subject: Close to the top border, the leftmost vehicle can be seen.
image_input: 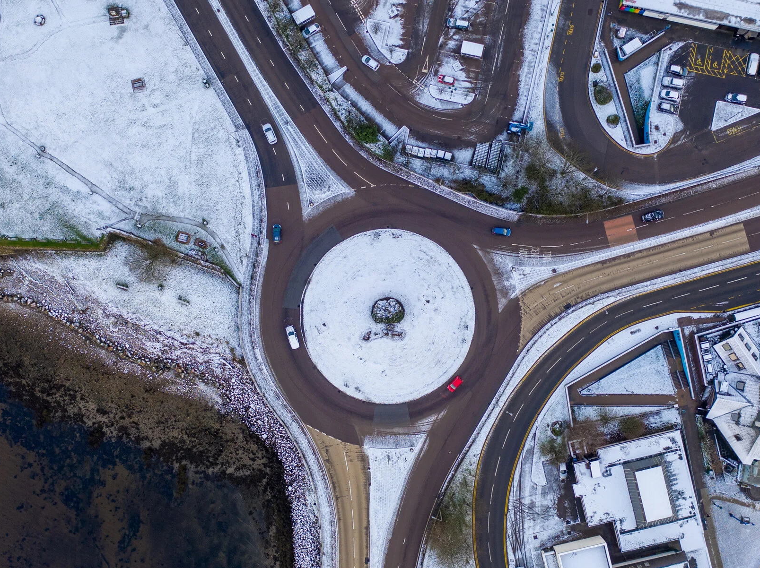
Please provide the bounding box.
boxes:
[303,23,321,37]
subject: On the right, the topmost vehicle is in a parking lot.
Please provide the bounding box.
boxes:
[447,18,470,31]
